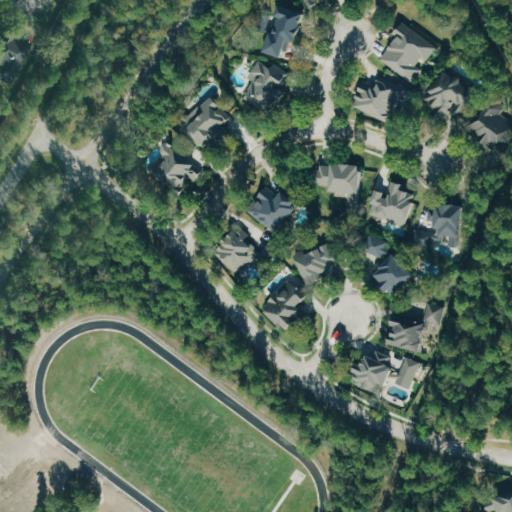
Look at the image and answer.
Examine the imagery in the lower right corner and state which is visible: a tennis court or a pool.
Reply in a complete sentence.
The one visible in the lower right corner is a pool.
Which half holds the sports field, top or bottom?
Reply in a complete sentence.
The sports field sits in the bottom half of the picture.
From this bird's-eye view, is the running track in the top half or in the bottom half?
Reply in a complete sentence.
The bottom half of the photo is where the running track is.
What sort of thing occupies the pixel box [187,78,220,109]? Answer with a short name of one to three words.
swimming pool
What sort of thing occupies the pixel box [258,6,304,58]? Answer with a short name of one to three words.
house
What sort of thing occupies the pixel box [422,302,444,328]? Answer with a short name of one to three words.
building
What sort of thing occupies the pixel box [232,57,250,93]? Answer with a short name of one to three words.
swimming pool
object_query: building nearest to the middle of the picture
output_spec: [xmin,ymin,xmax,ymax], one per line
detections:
[215,225,255,276]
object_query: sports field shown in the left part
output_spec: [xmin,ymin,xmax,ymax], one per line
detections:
[45,330,316,512]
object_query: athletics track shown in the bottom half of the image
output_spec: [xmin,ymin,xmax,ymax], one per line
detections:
[32,317,330,512]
